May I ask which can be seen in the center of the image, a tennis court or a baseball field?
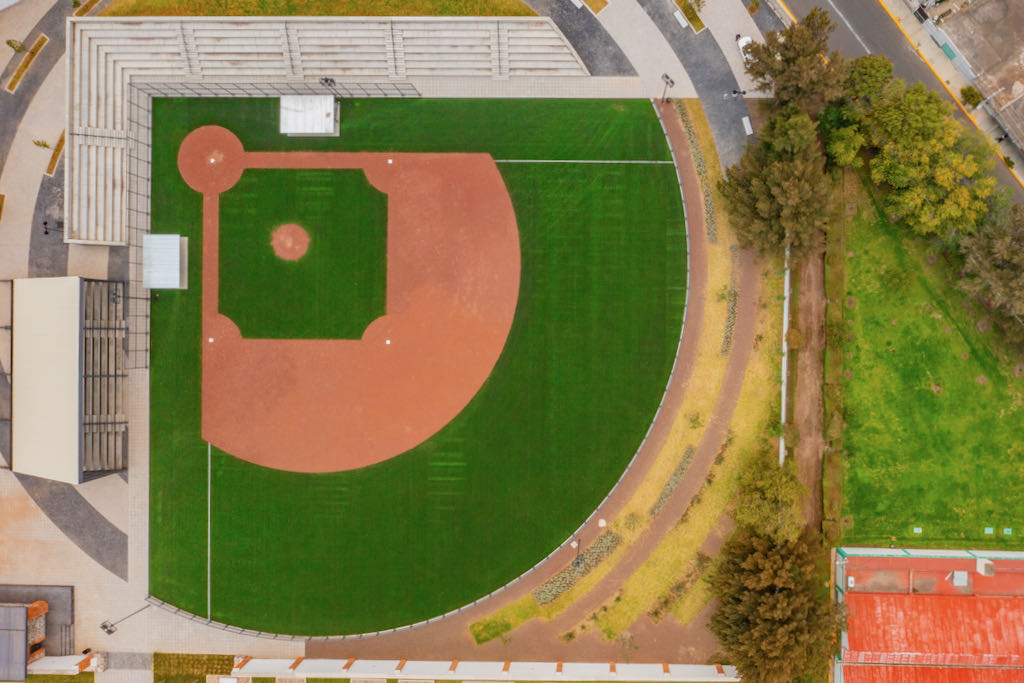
baseball field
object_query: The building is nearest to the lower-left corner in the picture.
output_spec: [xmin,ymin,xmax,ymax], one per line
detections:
[0,603,45,681]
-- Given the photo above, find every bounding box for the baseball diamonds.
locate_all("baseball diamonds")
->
[150,97,688,638]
